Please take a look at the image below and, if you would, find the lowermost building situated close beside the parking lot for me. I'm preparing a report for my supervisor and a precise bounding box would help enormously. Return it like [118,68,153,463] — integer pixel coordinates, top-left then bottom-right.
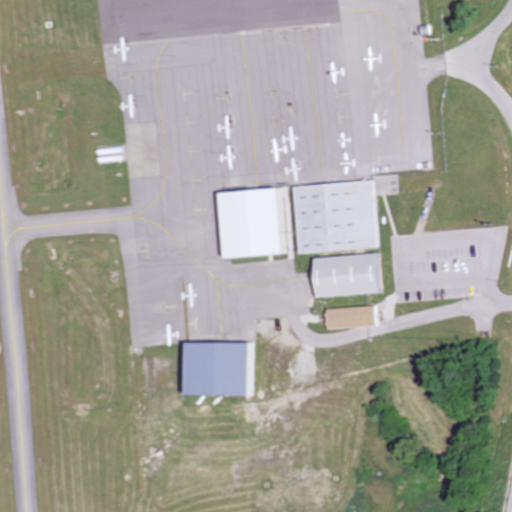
[324,306,378,329]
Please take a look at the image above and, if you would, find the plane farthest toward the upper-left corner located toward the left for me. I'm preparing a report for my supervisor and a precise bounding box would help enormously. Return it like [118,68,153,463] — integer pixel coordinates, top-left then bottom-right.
[112,37,131,62]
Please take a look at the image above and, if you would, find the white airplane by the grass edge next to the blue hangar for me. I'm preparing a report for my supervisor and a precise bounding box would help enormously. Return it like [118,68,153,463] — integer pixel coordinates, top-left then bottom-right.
[164,322,182,347]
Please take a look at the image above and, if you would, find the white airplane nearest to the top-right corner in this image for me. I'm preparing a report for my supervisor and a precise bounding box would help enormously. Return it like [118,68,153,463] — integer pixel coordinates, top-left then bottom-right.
[364,48,382,71]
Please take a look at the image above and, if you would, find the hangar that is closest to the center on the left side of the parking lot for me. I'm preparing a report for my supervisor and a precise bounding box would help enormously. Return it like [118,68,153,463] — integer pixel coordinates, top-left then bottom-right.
[220,188,288,258]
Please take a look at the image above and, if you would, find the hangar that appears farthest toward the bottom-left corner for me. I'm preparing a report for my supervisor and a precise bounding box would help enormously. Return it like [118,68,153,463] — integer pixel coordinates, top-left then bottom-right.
[182,342,254,396]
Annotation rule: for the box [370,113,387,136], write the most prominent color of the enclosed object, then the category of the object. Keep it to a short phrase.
white airplane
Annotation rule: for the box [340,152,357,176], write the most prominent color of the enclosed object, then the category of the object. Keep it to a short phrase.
white airplane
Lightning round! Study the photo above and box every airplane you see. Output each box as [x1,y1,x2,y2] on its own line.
[178,283,198,308]
[338,132,351,148]
[326,61,344,84]
[112,37,131,62]
[164,322,182,347]
[119,94,139,118]
[282,157,302,182]
[370,113,387,136]
[364,48,382,71]
[217,145,237,170]
[216,115,235,140]
[340,152,357,176]
[280,126,300,151]
[270,138,288,163]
